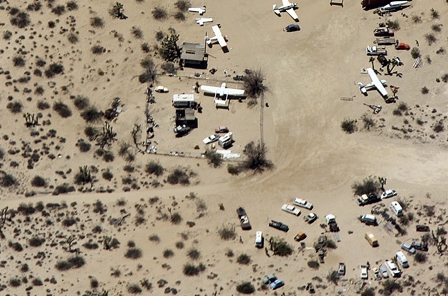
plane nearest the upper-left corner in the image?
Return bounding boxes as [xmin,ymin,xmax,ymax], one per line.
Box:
[203,25,226,48]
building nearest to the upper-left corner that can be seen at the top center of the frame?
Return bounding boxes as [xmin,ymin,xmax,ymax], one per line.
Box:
[181,43,205,66]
